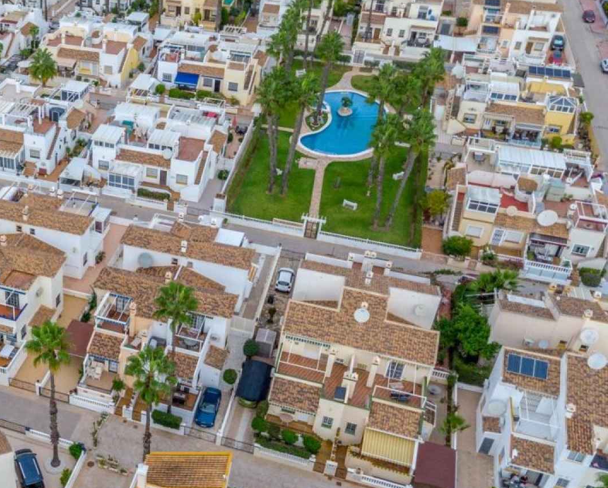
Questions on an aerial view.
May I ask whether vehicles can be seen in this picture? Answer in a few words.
Yes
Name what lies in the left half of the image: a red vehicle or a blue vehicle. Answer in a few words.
blue vehicle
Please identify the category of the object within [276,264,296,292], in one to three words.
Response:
car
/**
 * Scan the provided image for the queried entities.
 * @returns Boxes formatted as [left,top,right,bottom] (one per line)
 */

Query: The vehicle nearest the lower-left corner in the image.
[17,452,46,488]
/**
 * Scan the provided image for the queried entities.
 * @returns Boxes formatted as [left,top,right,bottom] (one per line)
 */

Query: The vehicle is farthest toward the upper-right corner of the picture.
[583,6,597,19]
